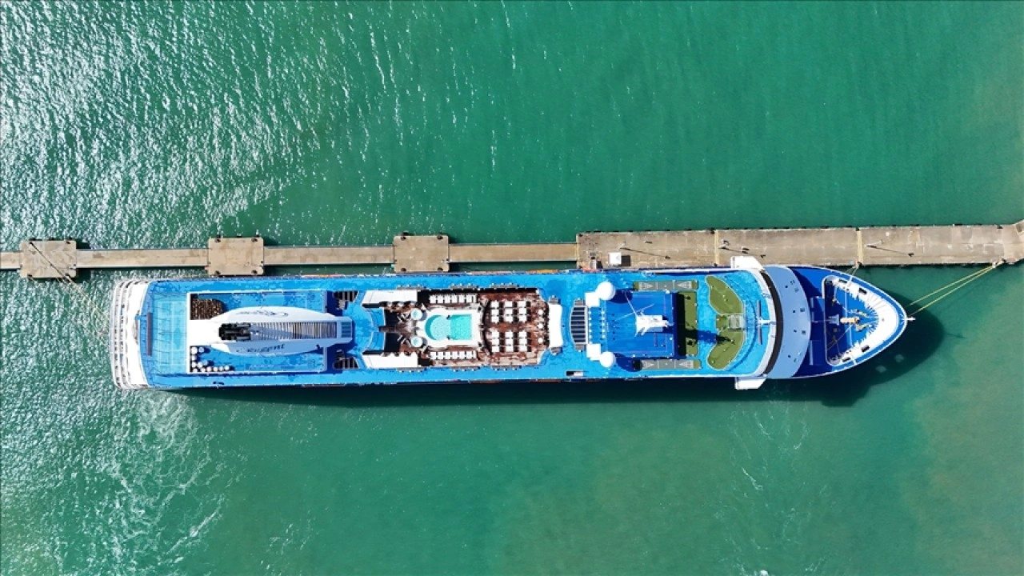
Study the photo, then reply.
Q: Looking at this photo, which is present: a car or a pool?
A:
pool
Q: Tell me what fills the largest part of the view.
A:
water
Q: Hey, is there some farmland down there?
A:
No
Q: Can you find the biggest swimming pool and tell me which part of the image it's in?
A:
center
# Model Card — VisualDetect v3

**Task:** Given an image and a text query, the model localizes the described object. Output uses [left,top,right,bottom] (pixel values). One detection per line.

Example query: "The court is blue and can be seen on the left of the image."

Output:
[142,293,186,374]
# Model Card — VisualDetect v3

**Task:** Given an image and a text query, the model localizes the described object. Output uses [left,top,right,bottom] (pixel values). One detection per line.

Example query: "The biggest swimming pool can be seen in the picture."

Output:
[417,307,483,349]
